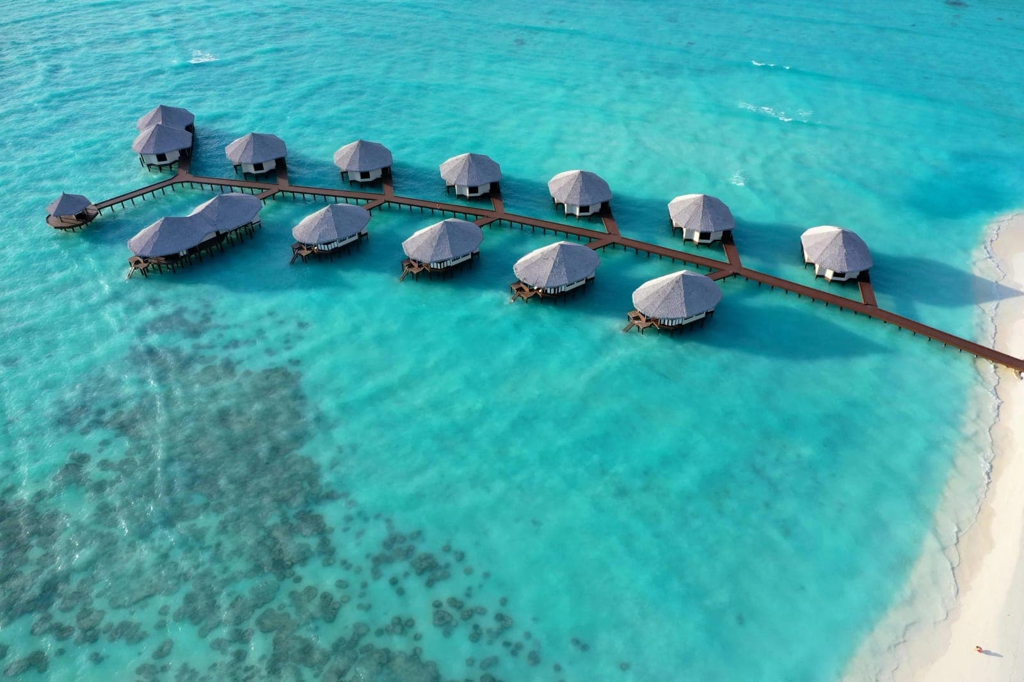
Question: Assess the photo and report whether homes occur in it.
Yes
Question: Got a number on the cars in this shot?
zero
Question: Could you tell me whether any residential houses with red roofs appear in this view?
No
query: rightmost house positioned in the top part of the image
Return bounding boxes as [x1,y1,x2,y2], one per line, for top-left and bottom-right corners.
[797,226,877,290]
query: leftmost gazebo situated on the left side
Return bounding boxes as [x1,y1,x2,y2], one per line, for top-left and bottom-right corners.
[46,189,102,235]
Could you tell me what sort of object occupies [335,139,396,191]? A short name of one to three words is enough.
house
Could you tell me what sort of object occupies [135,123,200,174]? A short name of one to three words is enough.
house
